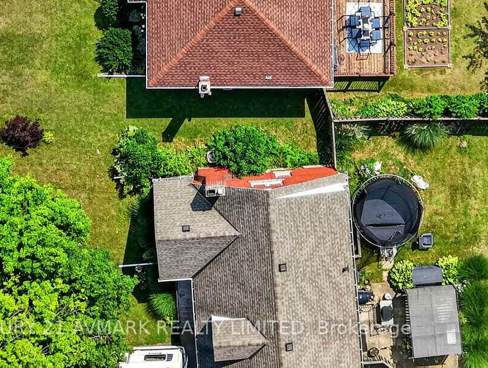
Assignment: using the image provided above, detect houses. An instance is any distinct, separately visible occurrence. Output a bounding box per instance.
[131,0,334,94]
[154,161,364,368]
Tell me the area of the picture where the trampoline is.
right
